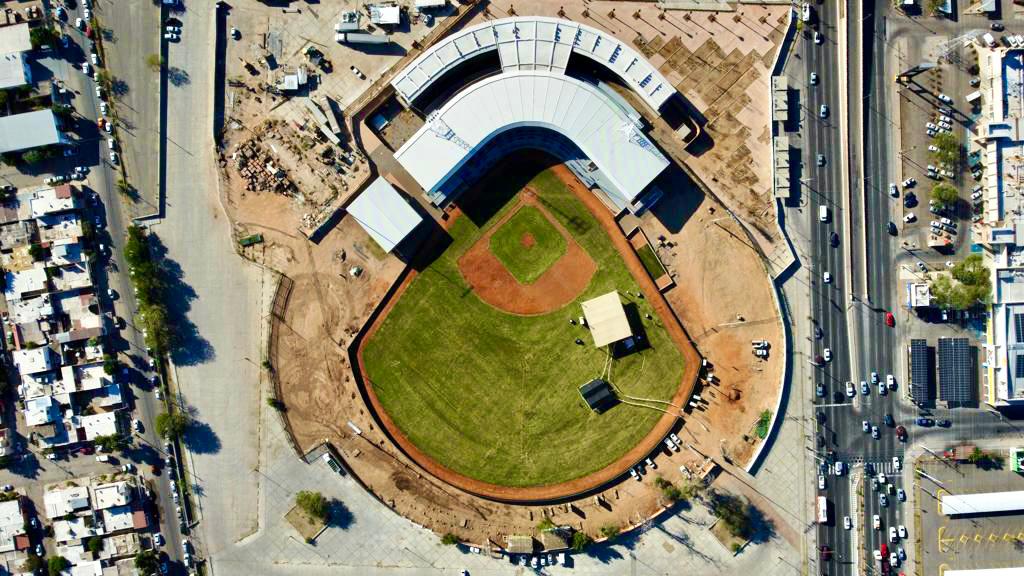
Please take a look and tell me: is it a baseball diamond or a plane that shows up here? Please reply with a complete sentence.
Of the two, only a baseball diamond appears.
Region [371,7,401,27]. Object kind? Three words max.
building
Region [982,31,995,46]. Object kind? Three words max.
vehicle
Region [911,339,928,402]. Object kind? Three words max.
solar panel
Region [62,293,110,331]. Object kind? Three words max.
house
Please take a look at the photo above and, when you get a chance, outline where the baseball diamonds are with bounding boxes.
[350,153,699,497]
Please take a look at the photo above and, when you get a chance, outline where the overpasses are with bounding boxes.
[841,0,869,300]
